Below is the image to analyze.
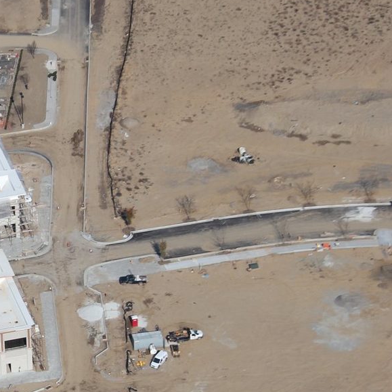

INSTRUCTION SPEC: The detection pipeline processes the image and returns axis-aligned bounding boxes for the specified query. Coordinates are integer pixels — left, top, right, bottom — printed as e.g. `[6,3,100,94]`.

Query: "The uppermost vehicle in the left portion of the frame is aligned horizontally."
[117,273,149,286]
